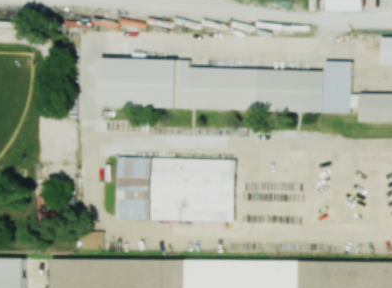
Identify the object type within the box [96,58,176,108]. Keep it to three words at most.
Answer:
building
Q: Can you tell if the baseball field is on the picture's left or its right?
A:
left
